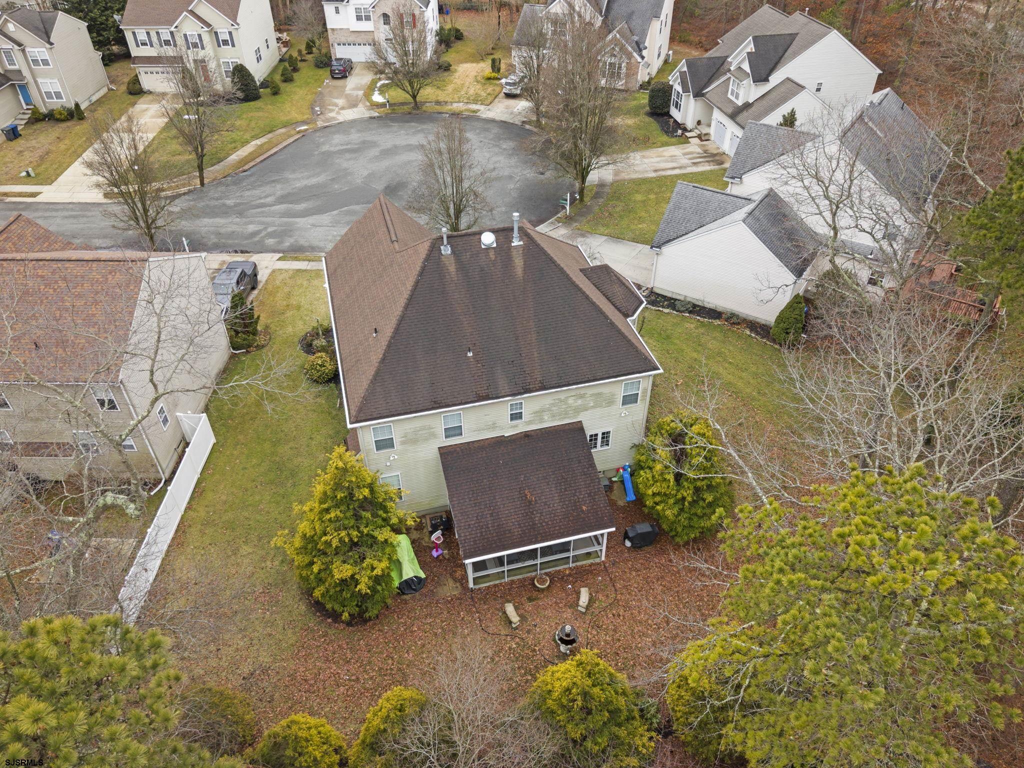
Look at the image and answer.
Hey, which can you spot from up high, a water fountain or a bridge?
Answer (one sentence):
I can see a water fountain in this picture.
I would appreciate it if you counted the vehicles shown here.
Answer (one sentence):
I count 3 vehicles.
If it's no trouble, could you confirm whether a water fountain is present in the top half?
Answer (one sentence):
No, no water fountain can be made out in the top half.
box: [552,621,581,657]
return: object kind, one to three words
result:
fountain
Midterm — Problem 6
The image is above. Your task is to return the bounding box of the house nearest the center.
[323,196,667,594]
